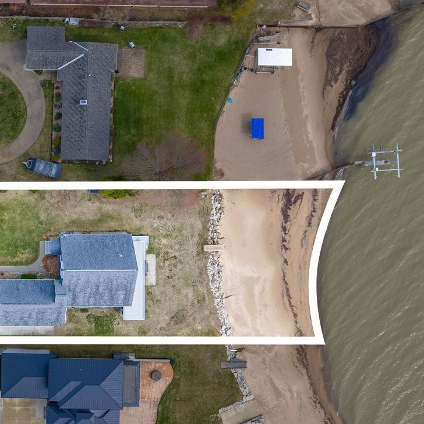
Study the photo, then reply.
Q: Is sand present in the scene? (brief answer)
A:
Yes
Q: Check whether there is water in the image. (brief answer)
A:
Yes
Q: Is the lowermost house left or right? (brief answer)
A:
left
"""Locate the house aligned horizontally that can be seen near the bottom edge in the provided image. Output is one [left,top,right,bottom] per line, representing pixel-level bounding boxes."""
[1,353,170,424]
